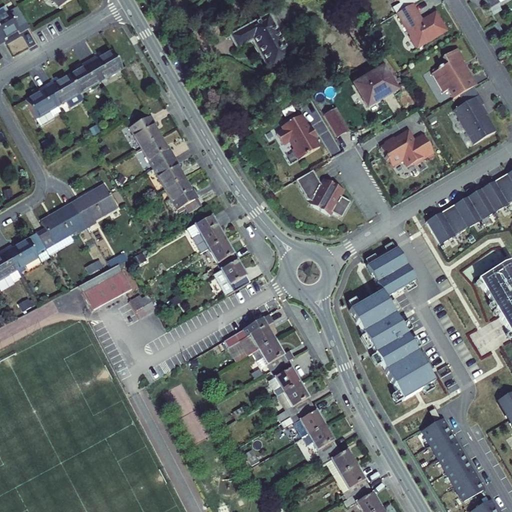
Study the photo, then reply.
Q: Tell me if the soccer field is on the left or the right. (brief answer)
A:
left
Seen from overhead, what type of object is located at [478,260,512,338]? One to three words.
building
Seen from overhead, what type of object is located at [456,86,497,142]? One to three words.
house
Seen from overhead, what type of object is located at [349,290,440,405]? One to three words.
building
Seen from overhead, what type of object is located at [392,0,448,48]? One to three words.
house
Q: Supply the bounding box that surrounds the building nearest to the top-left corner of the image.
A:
[0,6,30,56]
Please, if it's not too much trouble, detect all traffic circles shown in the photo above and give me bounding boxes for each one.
[252,212,356,346]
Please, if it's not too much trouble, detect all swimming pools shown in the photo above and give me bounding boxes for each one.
[324,86,336,100]
[314,92,325,103]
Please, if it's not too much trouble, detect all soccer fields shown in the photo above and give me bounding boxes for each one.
[0,322,185,512]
